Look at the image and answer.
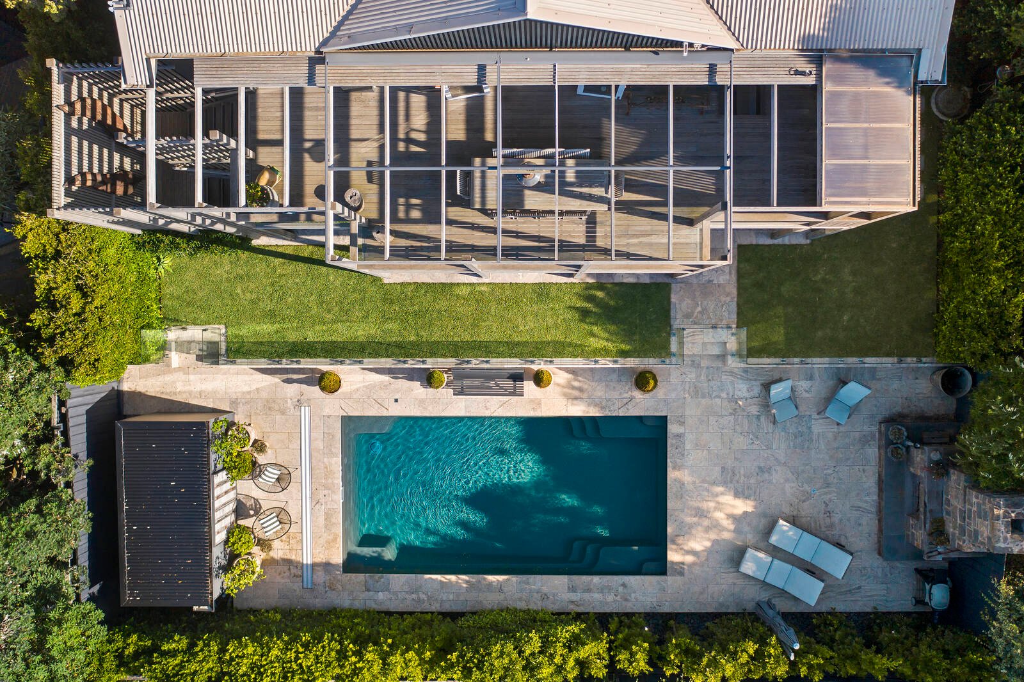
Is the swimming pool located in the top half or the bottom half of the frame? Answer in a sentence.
You can find the swimming pool in the bottom half.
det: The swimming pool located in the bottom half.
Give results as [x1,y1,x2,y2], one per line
[339,417,667,574]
